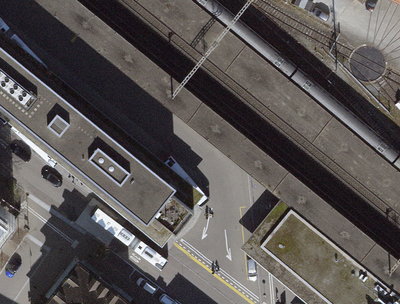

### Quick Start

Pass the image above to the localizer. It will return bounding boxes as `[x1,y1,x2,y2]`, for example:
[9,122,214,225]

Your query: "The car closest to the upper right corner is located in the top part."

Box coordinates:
[366,0,379,14]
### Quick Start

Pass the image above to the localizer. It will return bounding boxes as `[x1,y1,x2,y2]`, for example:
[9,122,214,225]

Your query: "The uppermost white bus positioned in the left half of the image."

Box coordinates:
[91,208,168,270]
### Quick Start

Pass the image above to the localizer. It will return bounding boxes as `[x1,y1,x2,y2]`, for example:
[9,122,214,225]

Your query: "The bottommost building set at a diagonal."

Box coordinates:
[241,201,400,304]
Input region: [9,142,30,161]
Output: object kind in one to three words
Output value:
car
